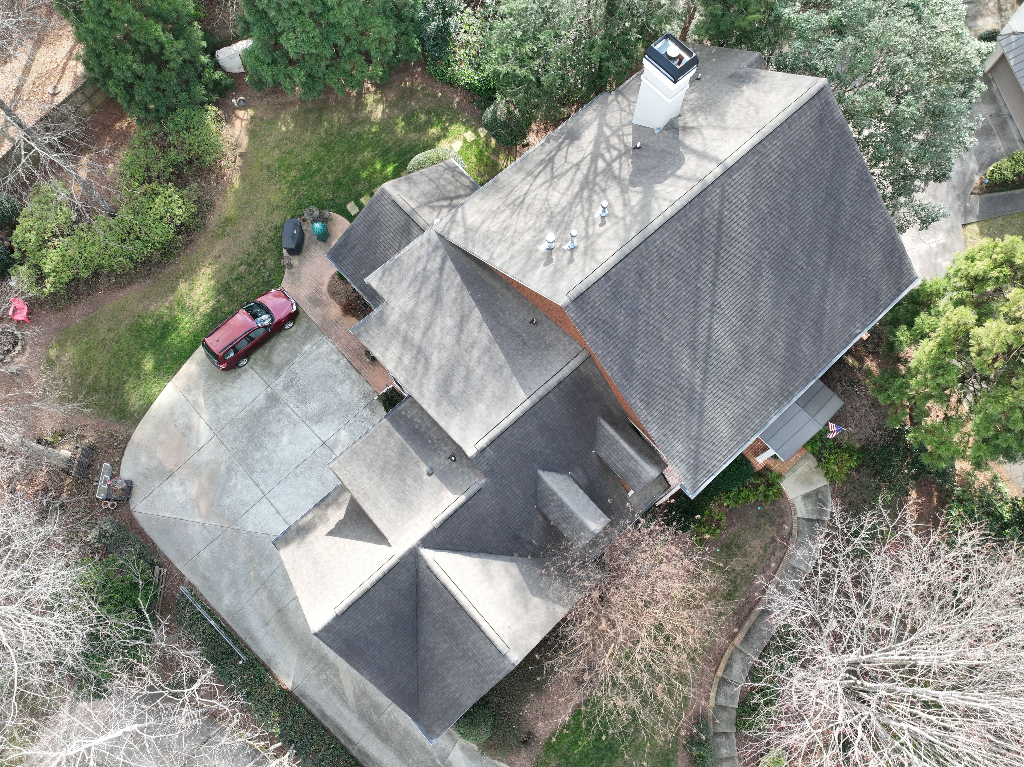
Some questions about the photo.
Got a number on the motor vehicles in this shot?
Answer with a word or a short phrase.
1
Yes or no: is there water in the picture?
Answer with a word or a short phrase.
No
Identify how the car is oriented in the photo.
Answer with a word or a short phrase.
diagonally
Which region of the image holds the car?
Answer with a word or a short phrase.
left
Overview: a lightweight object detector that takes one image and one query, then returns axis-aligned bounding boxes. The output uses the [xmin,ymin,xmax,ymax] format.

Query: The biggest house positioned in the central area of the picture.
[269,27,926,748]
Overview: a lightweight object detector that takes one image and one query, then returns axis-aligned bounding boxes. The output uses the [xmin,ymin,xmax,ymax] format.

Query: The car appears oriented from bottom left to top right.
[199,287,301,373]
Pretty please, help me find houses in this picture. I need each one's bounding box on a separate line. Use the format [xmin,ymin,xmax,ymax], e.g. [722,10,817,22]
[985,0,1024,142]
[269,27,926,748]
